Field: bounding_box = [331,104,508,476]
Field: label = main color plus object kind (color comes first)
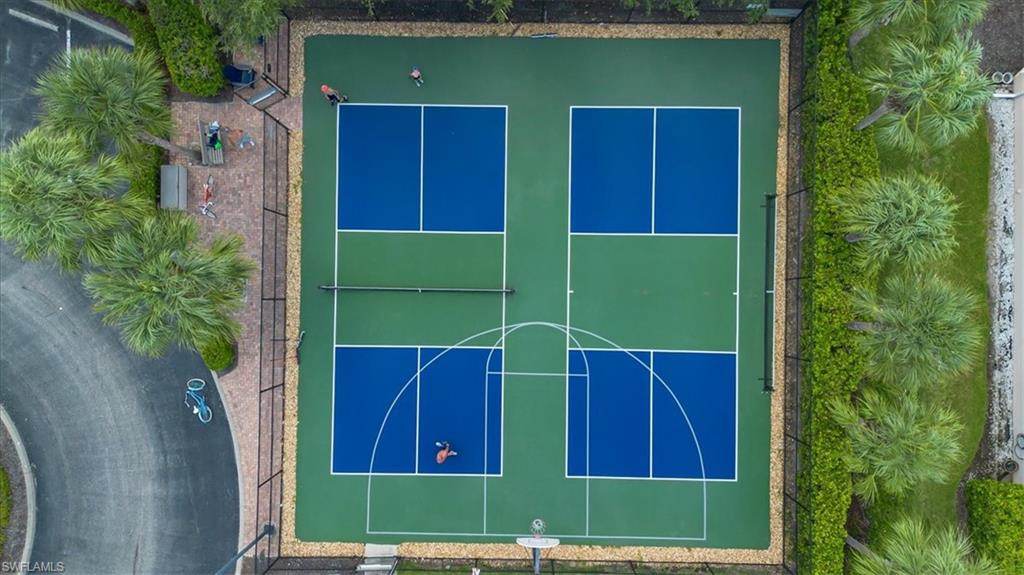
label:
blue sports court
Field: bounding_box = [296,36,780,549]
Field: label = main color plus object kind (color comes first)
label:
green sports court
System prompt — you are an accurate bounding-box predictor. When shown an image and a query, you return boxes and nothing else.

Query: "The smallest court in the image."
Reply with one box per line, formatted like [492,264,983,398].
[367,321,706,541]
